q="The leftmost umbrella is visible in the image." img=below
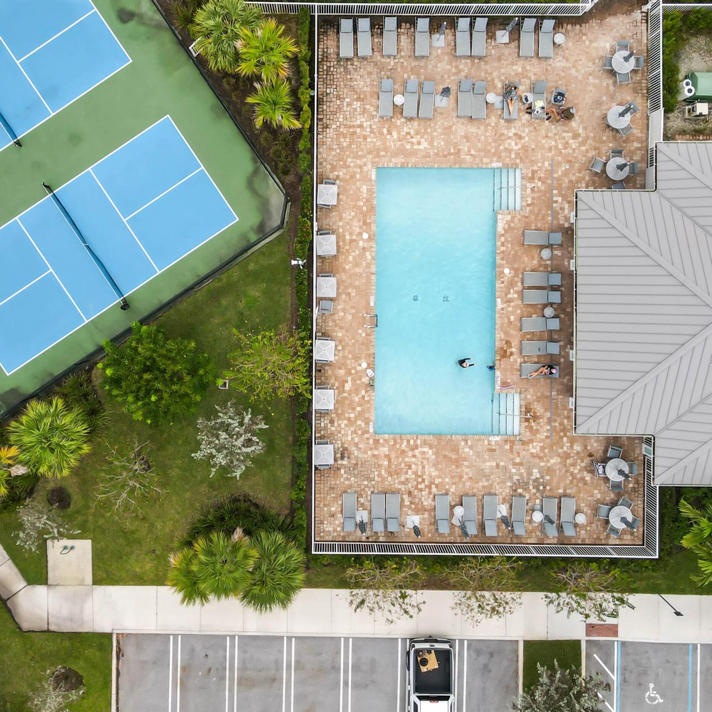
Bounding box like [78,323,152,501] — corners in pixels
[357,510,369,535]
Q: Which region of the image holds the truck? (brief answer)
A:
bottom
